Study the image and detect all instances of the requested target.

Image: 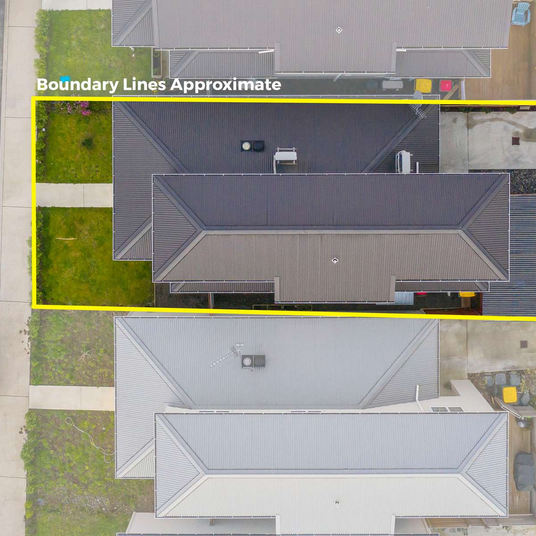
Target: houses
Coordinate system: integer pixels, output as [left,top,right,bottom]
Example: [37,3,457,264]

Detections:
[114,0,520,80]
[115,311,509,536]
[112,96,509,303]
